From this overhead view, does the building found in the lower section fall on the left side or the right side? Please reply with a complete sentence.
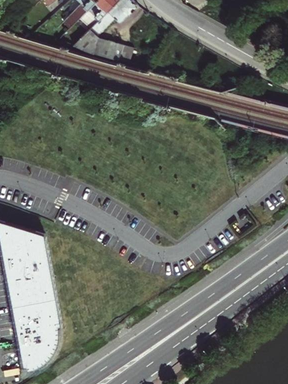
The building found in the lower section is on the left side of the image.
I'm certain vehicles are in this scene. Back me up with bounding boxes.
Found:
[68,216,76,228]
[128,252,136,264]
[12,190,19,202]
[276,190,286,202]
[74,218,82,230]
[102,234,110,244]
[265,199,274,209]
[130,217,138,228]
[119,246,126,256]
[6,190,12,200]
[166,264,171,275]
[20,194,28,206]
[174,264,180,275]
[186,258,194,268]
[180,260,187,272]
[82,188,90,200]
[102,198,110,208]
[224,229,233,239]
[212,238,222,248]
[26,198,33,208]
[270,194,280,206]
[0,186,6,198]
[63,213,72,225]
[0,308,8,313]
[206,242,216,254]
[58,209,66,220]
[97,232,105,242]
[218,232,228,244]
